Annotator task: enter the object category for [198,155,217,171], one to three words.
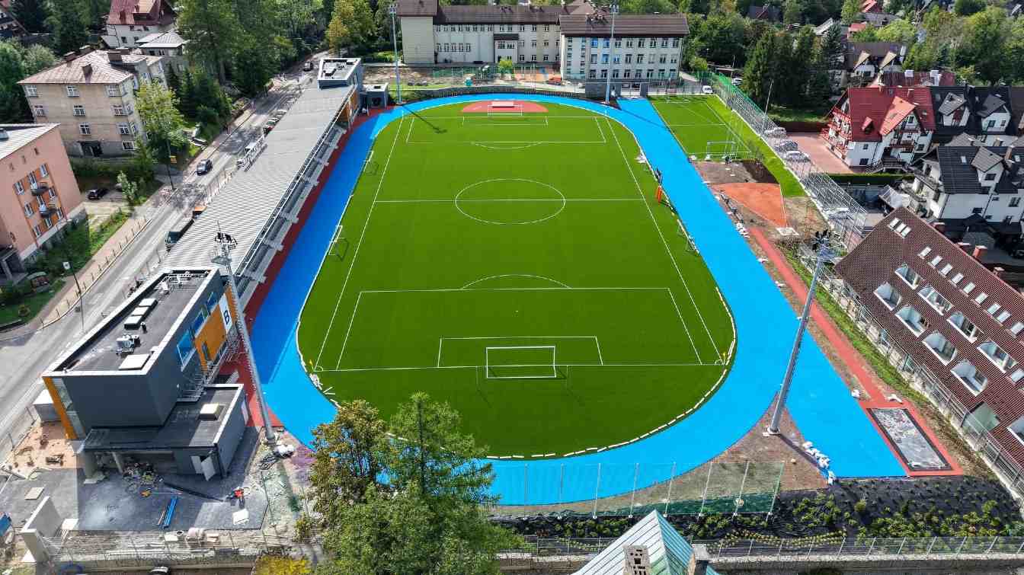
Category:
car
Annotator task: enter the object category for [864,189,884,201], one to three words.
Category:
vehicle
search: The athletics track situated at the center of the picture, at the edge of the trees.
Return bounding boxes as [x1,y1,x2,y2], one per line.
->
[249,93,782,506]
